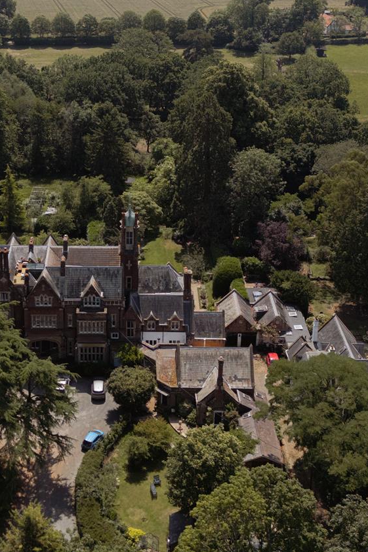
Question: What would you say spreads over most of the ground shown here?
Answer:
trees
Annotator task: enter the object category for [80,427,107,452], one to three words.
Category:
car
